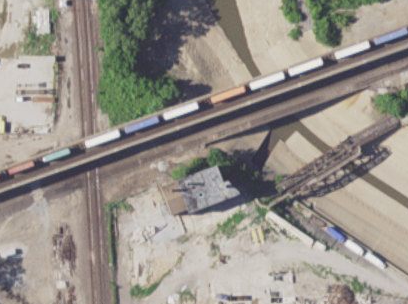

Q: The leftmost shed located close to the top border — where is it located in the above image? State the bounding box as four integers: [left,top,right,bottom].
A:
[37,9,50,34]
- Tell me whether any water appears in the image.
Yes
